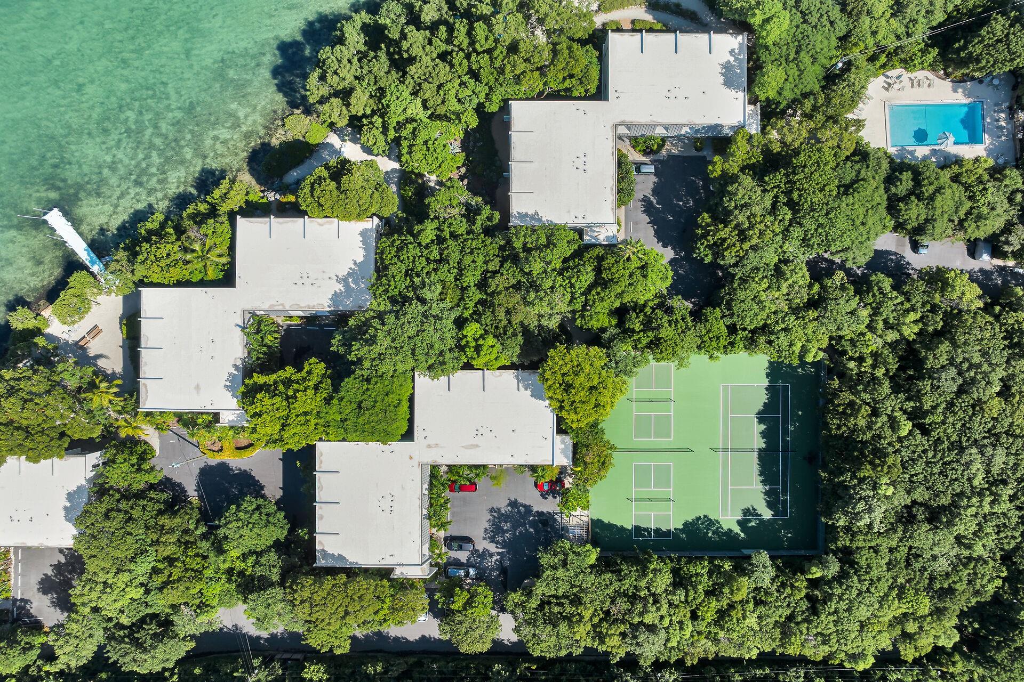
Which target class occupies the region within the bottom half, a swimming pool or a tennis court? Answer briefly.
tennis court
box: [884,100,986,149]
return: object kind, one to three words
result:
swimming pool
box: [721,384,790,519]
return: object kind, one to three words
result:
tennis court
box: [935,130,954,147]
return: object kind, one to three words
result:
umbrella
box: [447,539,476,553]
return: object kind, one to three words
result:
car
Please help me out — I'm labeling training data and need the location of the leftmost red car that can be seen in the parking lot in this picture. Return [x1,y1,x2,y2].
[448,482,478,496]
